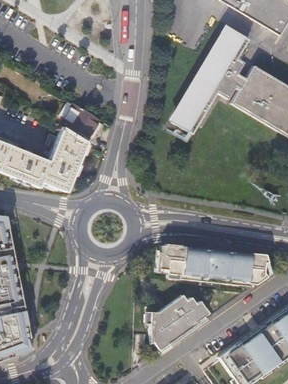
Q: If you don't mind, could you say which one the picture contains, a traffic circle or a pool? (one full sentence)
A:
This aerial view contains a traffic circle.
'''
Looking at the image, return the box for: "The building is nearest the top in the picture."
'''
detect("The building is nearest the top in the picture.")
[216,0,288,38]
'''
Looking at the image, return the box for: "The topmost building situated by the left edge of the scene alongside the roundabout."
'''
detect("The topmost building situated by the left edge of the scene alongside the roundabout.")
[0,127,92,196]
